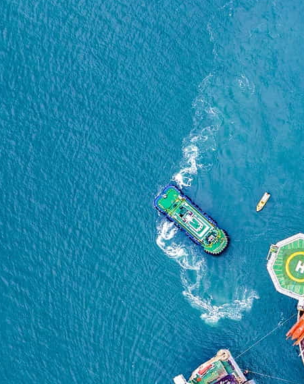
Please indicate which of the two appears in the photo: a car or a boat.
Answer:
boat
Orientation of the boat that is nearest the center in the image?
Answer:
at an angle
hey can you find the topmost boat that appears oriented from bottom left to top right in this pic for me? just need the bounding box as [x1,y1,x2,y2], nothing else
[257,193,271,211]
